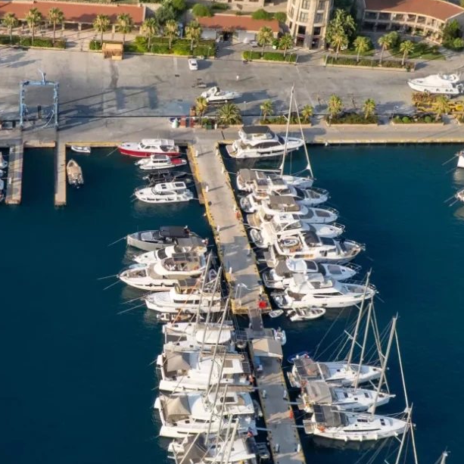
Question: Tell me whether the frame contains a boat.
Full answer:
Yes, the image includes a boat.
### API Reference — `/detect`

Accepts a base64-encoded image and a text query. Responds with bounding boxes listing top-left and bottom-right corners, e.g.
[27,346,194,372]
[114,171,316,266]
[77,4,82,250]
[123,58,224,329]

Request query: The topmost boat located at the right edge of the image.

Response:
[406,69,464,95]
